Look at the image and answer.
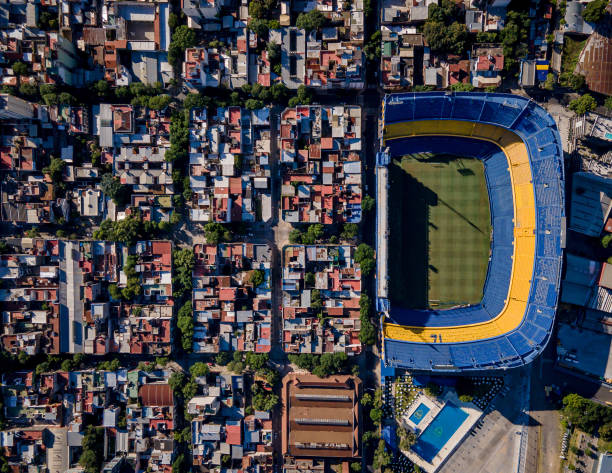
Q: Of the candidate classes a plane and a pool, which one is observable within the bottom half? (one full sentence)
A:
Looking within the bottom half, you will find a pool.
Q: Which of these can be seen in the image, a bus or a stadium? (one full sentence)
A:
Visible in the photo is a stadium.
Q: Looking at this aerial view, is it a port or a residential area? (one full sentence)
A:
This looks like a residential area.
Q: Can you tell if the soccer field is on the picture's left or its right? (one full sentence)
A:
It is on the right.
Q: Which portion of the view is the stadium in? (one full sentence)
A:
The stadium appears toward the right of the photo.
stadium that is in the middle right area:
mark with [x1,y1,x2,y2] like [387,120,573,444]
[371,89,572,378]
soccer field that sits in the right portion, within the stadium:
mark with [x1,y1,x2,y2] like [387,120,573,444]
[390,155,491,309]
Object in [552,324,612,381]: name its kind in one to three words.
building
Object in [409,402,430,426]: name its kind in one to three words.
swimming pool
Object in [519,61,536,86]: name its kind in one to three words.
house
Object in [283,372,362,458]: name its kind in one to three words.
building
